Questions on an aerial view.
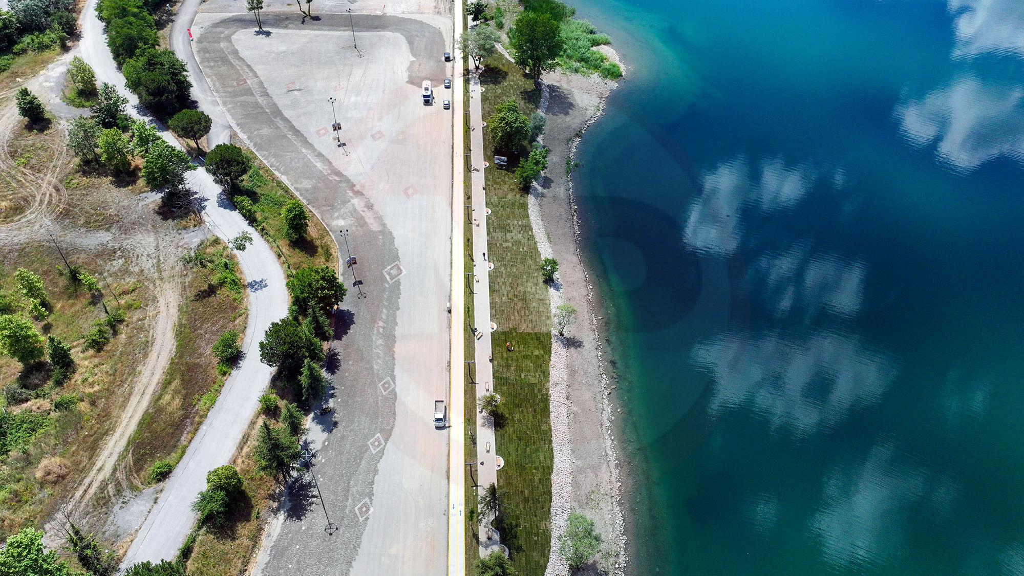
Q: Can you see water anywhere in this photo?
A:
Yes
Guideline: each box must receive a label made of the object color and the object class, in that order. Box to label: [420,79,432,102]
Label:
white vehicle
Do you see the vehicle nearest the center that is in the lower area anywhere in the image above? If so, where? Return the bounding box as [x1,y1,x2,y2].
[432,396,448,425]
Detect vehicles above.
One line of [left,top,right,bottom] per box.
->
[444,52,450,61]
[443,77,451,87]
[420,79,432,102]
[442,98,450,108]
[432,396,448,425]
